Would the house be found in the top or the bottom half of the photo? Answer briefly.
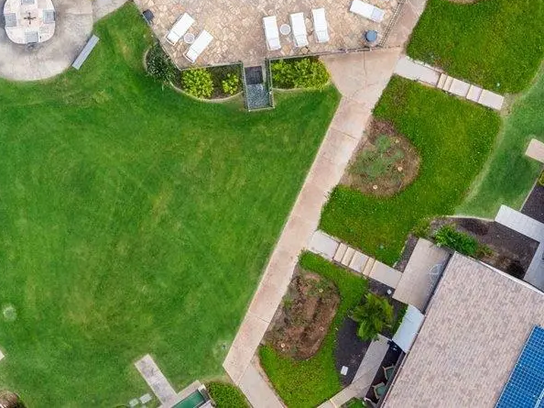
bottom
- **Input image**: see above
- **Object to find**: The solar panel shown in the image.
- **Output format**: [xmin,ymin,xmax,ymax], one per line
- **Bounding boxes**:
[497,327,544,408]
